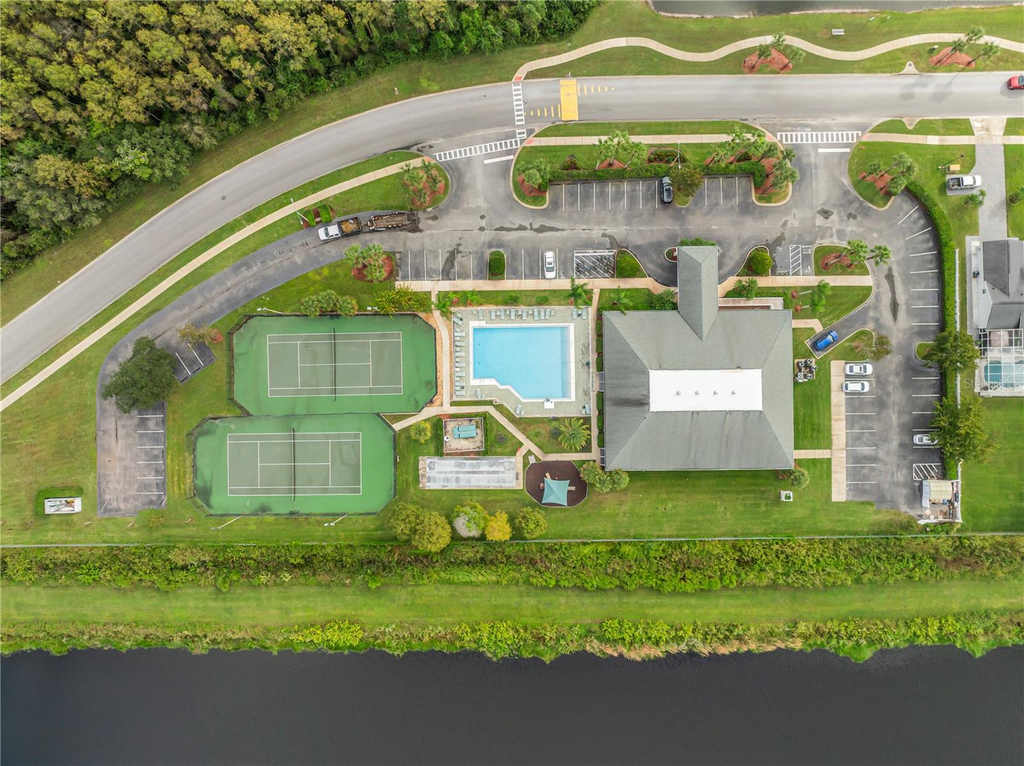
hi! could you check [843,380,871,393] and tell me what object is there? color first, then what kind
white vehicle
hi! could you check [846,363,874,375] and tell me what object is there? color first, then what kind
white vehicle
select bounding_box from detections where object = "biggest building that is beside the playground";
[600,246,794,472]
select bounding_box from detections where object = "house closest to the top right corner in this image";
[974,238,1024,329]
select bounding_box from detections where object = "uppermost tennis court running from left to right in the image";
[233,314,437,416]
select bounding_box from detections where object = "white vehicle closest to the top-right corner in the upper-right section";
[949,173,984,188]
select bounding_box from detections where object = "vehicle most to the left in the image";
[316,215,362,236]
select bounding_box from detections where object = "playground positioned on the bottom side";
[525,460,588,508]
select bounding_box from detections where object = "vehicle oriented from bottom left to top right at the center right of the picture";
[814,329,840,351]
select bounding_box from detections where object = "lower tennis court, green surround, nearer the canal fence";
[194,415,394,516]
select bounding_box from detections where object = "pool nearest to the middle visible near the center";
[452,306,591,417]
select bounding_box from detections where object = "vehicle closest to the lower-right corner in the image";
[913,433,941,446]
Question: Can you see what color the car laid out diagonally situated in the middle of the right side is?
blue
